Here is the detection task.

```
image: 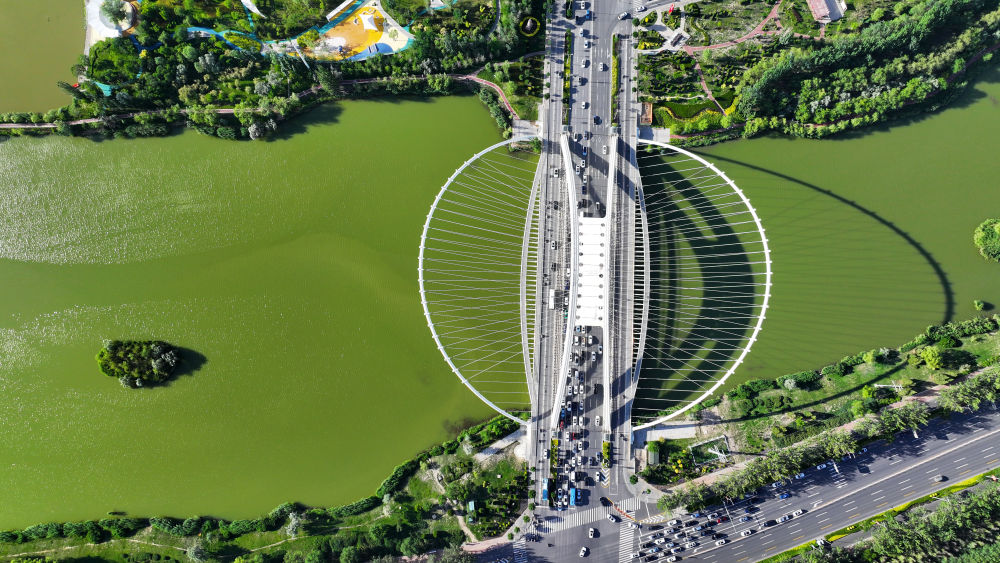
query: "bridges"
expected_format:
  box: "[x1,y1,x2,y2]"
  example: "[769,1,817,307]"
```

[416,124,772,444]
